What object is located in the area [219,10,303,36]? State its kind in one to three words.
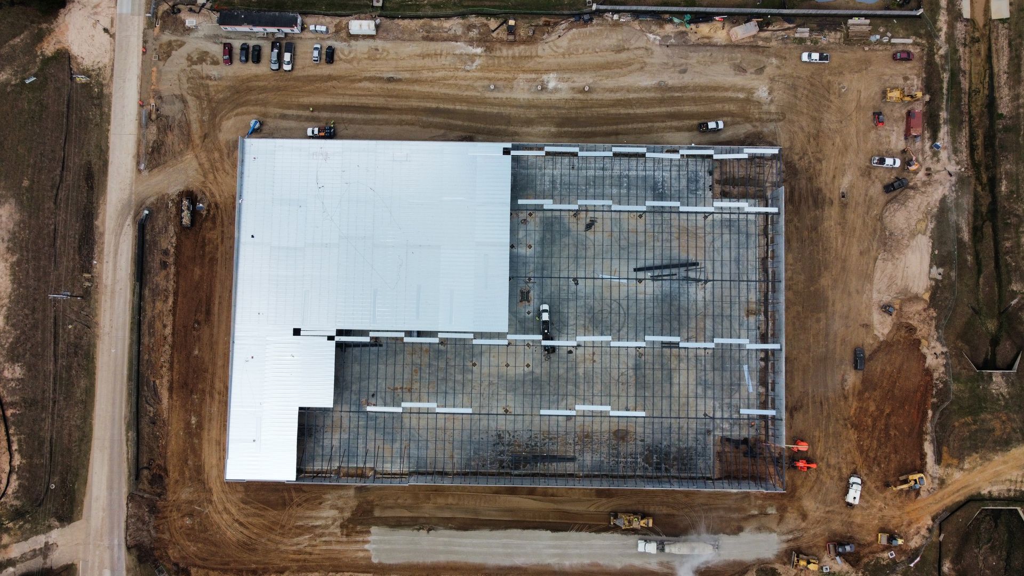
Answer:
trailer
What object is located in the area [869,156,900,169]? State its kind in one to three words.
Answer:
vehicle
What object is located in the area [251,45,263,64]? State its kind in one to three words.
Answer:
vehicle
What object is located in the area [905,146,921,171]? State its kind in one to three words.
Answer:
work vehicle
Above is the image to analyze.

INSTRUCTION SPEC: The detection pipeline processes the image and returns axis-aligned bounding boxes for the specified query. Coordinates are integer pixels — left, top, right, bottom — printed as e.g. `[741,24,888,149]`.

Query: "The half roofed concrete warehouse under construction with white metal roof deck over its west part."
[226,135,785,492]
